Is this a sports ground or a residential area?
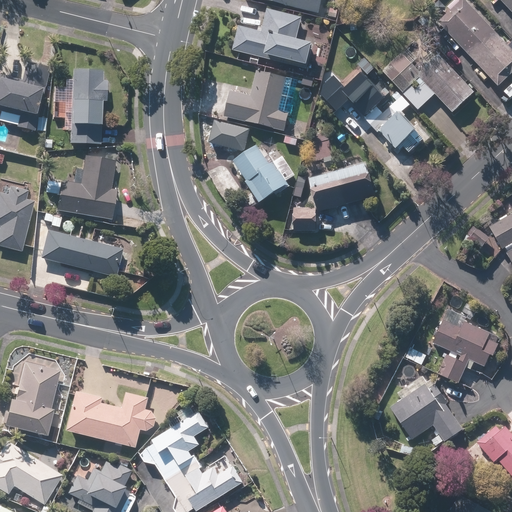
residential area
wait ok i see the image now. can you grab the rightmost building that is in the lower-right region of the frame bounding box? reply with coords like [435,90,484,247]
[476,414,512,480]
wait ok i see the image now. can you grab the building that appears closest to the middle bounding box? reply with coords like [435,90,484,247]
[292,206,318,232]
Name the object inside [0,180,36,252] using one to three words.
house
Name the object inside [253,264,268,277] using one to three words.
vehicle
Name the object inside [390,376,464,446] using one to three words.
house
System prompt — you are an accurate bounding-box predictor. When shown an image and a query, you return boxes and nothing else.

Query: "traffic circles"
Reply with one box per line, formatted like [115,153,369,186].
[234,296,316,378]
